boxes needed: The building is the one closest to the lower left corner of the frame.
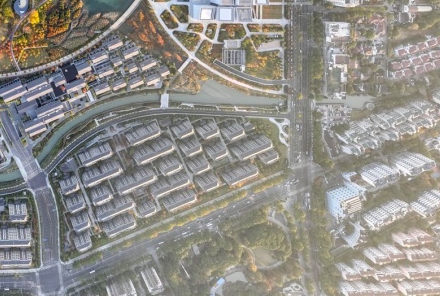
[0,248,31,266]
